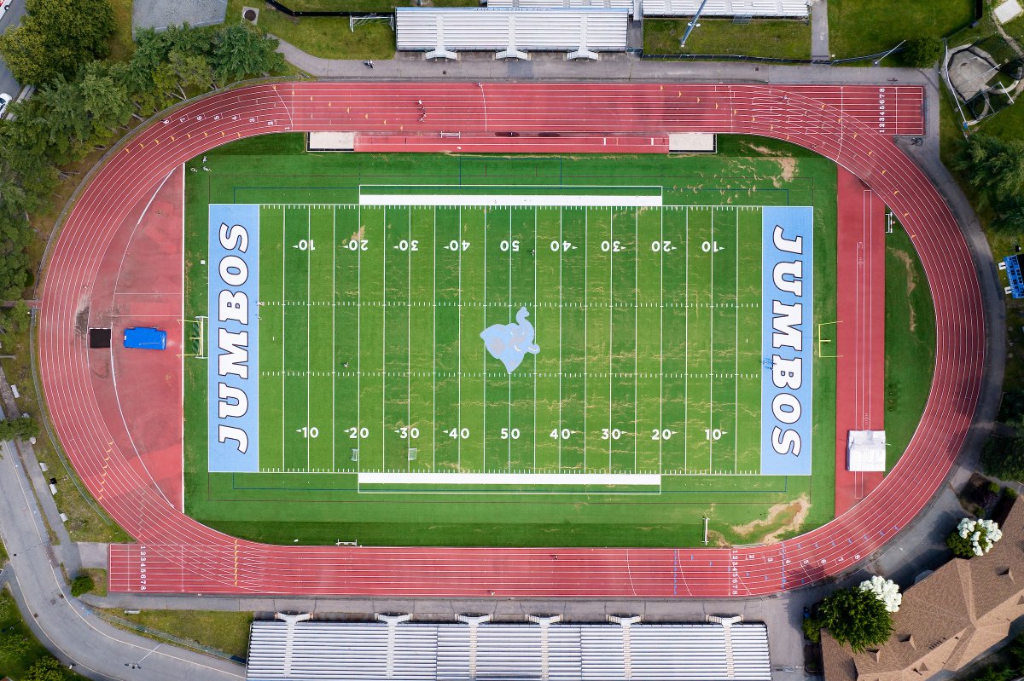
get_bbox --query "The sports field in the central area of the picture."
[184,132,936,547]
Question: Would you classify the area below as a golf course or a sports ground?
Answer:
sports ground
